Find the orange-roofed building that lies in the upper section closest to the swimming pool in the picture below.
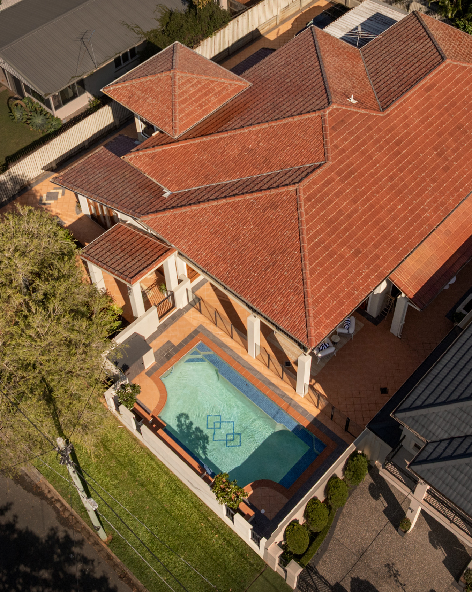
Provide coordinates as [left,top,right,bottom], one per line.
[48,9,472,398]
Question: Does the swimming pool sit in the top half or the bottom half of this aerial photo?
bottom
